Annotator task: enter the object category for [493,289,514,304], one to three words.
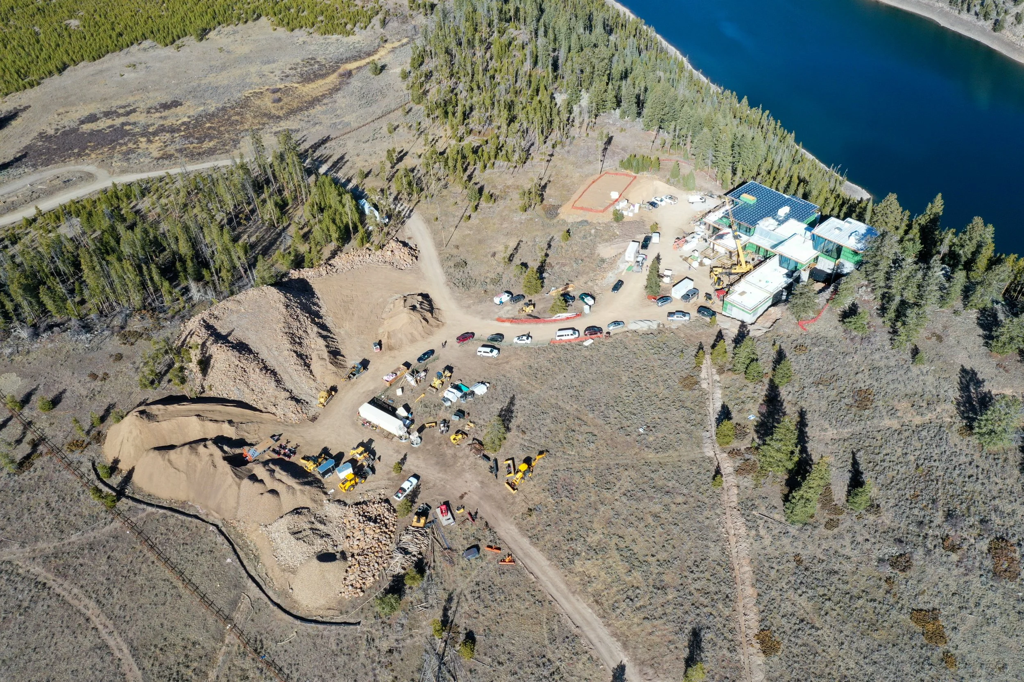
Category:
vehicle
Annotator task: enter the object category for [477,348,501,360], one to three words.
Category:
vehicle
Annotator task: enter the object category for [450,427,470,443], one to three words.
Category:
work vehicle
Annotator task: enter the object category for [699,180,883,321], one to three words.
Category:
house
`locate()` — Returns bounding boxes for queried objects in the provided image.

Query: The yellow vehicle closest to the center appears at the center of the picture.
[517,301,536,313]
